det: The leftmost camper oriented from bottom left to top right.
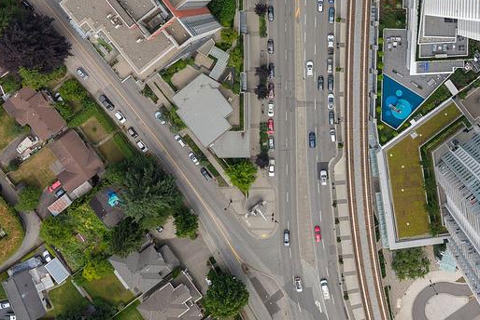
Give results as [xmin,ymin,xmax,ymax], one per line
[14,136,38,157]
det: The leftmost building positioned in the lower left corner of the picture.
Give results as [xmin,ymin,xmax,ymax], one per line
[3,255,73,320]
